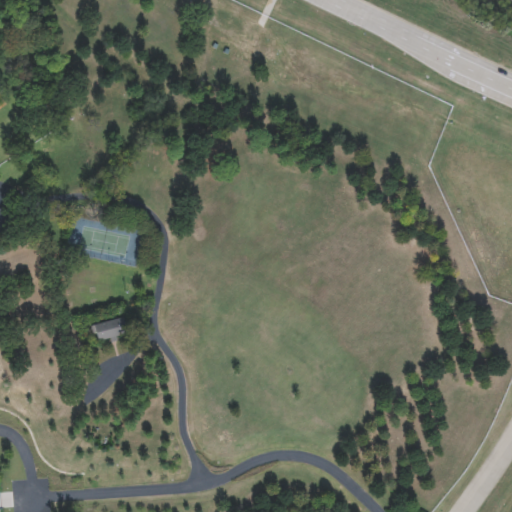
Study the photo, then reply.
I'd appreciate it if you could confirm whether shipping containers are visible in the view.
No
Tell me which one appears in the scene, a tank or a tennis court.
tennis court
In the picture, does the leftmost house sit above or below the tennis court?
below it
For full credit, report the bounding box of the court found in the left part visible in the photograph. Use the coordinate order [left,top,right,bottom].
[72,218,138,265]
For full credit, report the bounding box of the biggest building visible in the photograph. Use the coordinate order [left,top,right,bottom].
[92,320,124,341]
